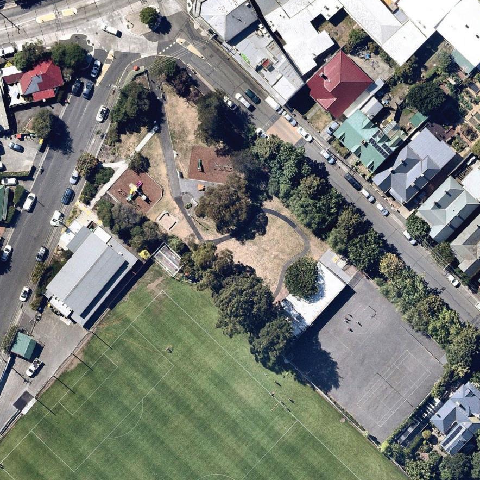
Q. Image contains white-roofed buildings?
Yes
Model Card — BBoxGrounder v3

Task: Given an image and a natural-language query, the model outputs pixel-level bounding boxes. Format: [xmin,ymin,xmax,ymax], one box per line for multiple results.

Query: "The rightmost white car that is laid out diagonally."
[446,274,461,288]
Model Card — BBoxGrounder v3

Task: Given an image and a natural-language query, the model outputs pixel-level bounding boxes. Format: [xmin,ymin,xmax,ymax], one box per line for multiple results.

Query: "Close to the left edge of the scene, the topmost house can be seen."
[1,61,64,102]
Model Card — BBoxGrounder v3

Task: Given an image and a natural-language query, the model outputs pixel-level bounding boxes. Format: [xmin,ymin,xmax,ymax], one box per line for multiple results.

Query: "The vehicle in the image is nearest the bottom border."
[26,358,43,377]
